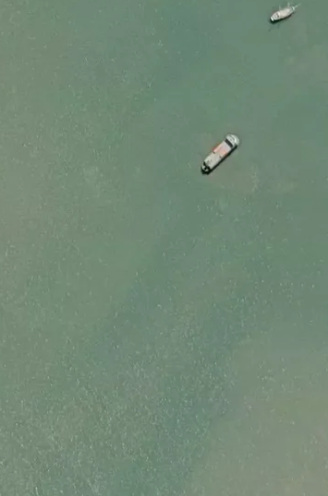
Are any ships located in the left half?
No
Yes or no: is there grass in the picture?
No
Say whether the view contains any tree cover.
No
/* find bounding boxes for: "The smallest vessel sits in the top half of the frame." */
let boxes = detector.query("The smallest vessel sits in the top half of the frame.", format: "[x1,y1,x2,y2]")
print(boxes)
[271,4,293,22]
